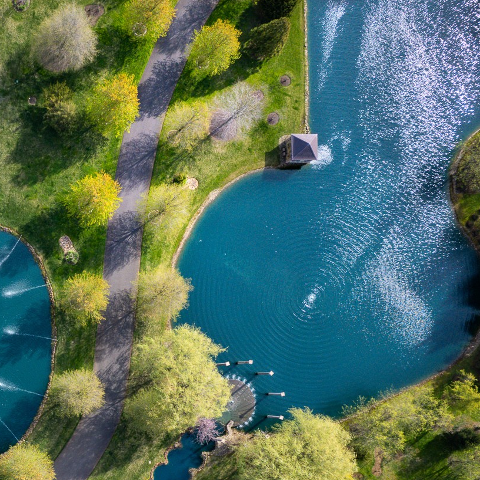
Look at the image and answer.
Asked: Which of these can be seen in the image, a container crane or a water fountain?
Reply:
water fountain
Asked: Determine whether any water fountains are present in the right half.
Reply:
Yes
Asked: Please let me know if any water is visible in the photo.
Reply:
Yes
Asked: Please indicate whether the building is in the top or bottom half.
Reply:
top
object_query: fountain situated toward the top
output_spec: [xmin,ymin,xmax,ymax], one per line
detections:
[304,140,338,170]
